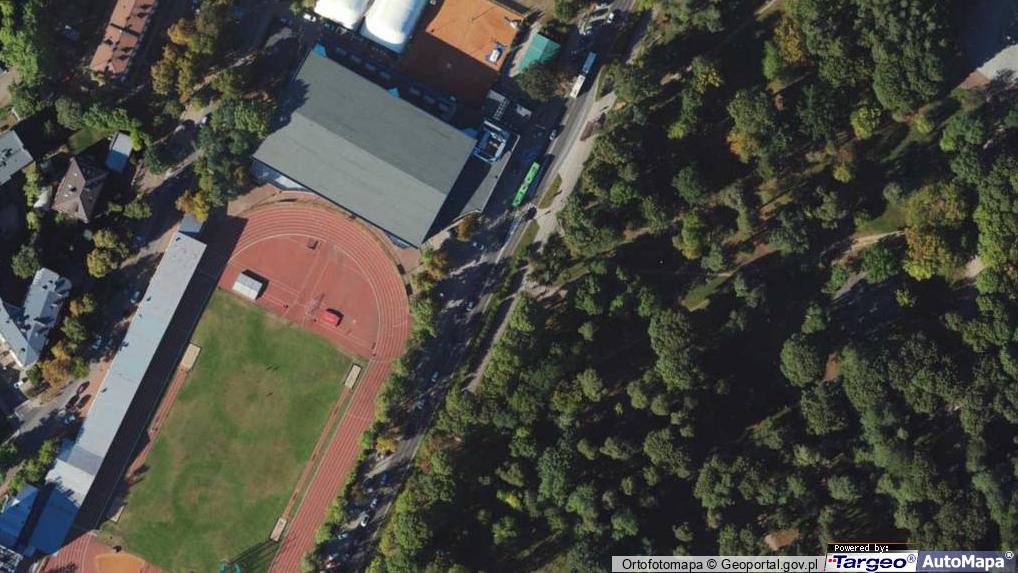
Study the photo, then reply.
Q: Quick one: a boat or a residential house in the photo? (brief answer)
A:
residential house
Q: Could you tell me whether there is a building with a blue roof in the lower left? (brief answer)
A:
Yes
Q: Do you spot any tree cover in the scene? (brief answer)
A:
Yes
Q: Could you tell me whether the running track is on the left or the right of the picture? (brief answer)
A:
left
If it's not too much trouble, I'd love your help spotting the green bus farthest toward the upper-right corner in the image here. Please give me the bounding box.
[512,161,540,207]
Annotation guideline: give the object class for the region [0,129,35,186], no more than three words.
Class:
house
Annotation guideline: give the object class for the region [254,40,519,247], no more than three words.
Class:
building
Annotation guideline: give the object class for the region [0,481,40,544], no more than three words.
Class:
building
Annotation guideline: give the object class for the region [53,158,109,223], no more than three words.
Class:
house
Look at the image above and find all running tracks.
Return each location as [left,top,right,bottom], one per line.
[61,208,408,573]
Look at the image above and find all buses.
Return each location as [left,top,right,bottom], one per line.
[571,52,596,98]
[512,161,540,207]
